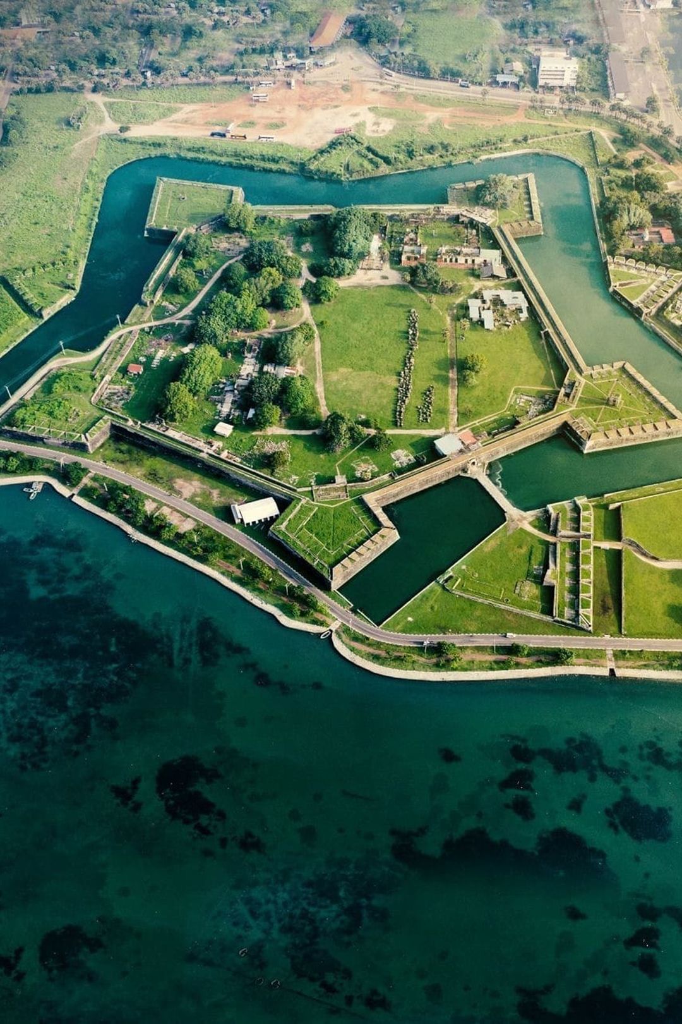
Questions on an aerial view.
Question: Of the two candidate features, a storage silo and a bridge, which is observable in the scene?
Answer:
bridge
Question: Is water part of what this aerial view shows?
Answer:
Yes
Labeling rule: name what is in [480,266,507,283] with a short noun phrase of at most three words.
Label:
house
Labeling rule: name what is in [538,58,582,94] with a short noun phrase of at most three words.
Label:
building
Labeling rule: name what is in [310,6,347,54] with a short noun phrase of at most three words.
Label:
building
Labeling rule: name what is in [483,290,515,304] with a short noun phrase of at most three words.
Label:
shed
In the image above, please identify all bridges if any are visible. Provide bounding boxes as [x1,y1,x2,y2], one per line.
[464,469,529,524]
